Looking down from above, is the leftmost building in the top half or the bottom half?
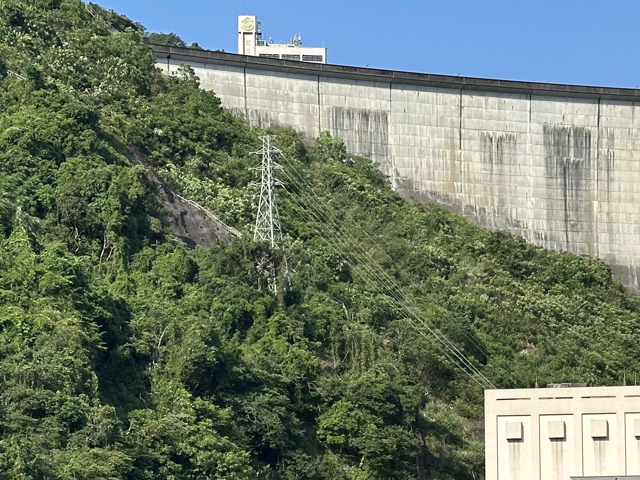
top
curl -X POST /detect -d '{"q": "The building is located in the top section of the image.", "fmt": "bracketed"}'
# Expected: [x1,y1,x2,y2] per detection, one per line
[238,15,331,60]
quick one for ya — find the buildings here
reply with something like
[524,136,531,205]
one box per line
[486,380,640,480]
[238,15,331,60]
